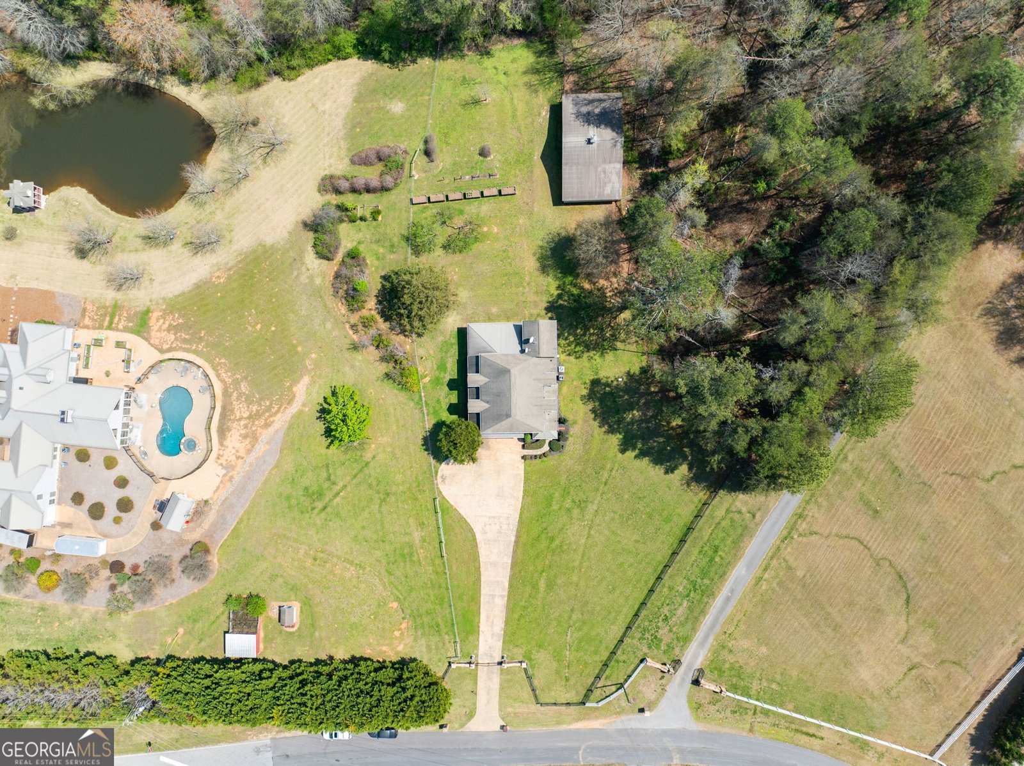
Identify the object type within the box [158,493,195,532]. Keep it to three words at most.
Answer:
shed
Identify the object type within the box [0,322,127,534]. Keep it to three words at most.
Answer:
house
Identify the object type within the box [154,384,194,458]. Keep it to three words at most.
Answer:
swimming pool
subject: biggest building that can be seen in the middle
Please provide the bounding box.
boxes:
[468,319,558,440]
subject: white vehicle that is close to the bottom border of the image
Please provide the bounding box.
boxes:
[324,727,353,743]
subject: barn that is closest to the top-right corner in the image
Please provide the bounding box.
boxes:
[562,93,623,206]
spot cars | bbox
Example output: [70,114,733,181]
[324,727,353,743]
[368,726,398,741]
